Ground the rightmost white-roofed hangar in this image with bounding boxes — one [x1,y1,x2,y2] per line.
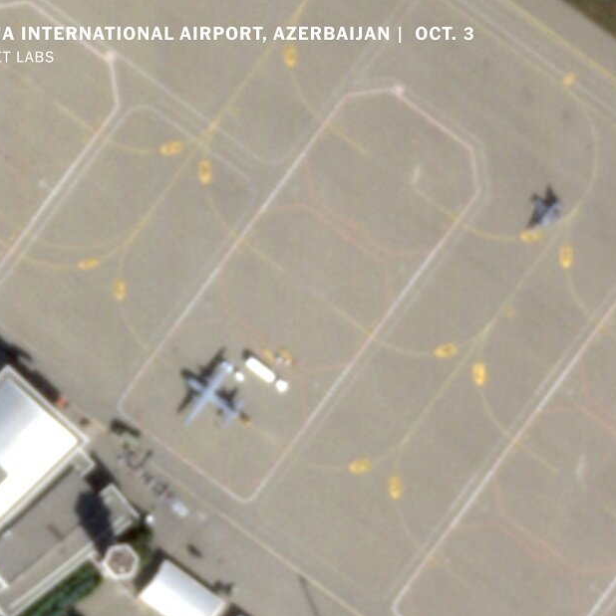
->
[138,559,225,616]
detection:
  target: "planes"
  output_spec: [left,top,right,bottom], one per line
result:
[185,364,243,428]
[530,195,568,231]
